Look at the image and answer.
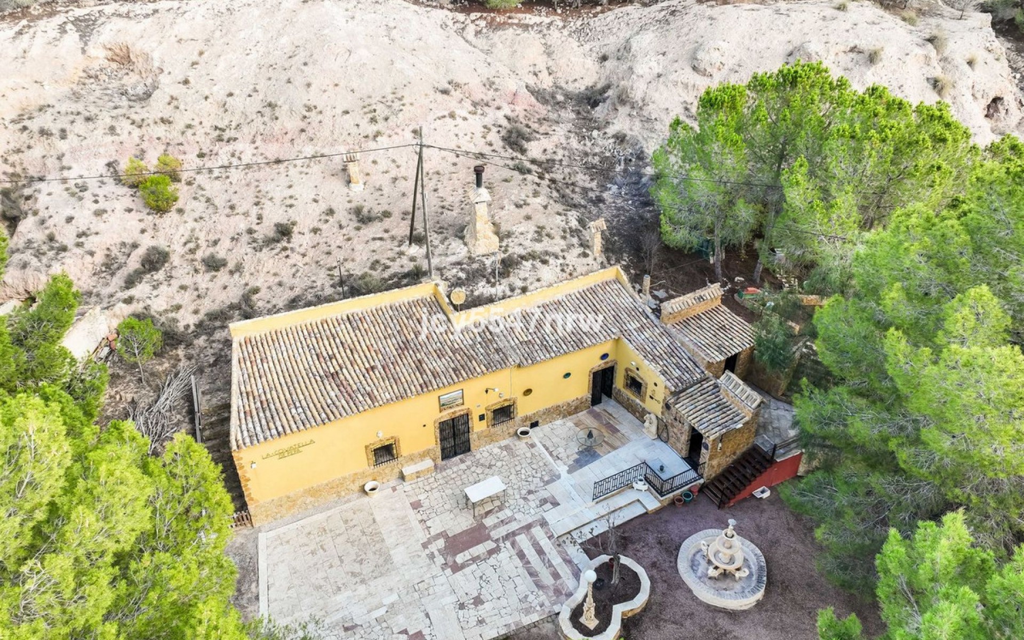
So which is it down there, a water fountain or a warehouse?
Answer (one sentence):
There is a water fountain in the scene.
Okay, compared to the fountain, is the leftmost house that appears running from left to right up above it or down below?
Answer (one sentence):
The leftmost house that appears running from left to right is located above the fountain in this view.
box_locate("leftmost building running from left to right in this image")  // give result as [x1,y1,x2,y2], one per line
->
[227,262,711,526]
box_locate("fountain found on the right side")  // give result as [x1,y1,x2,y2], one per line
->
[676,523,771,612]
